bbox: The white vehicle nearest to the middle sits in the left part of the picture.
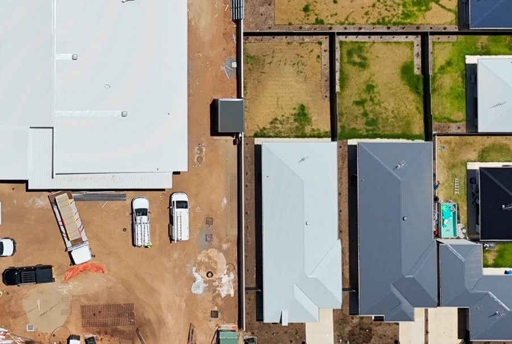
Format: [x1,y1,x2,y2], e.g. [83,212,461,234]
[169,192,192,246]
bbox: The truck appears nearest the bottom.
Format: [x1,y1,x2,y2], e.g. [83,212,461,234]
[3,263,56,288]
